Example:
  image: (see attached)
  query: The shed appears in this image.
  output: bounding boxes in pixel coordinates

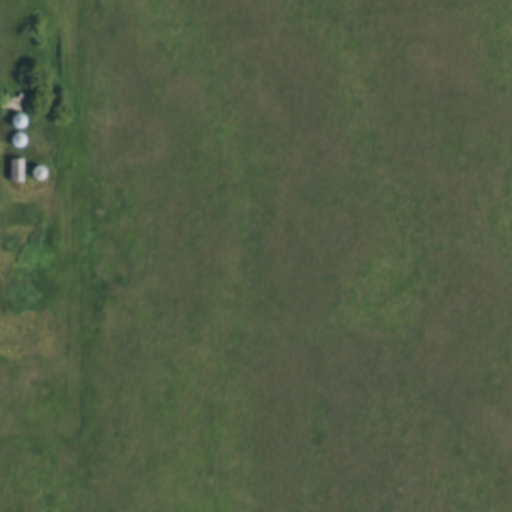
[12,158,26,182]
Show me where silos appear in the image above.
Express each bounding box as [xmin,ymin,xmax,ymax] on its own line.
[12,132,28,148]
[12,113,29,130]
[34,165,49,181]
